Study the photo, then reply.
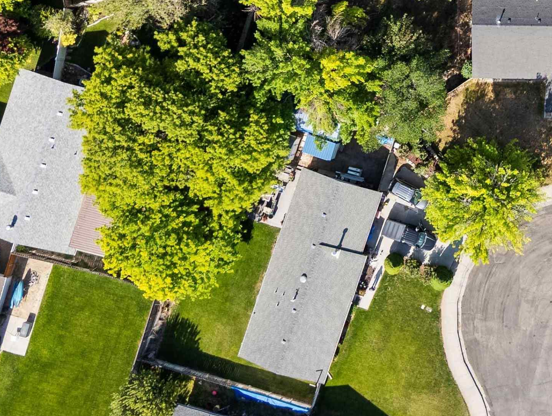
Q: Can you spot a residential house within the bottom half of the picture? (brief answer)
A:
Yes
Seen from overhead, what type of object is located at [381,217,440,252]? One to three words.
truck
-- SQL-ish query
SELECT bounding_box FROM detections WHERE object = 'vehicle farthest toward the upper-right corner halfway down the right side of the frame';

[387,178,433,213]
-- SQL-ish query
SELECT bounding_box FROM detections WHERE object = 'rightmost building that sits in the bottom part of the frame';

[239,168,383,385]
